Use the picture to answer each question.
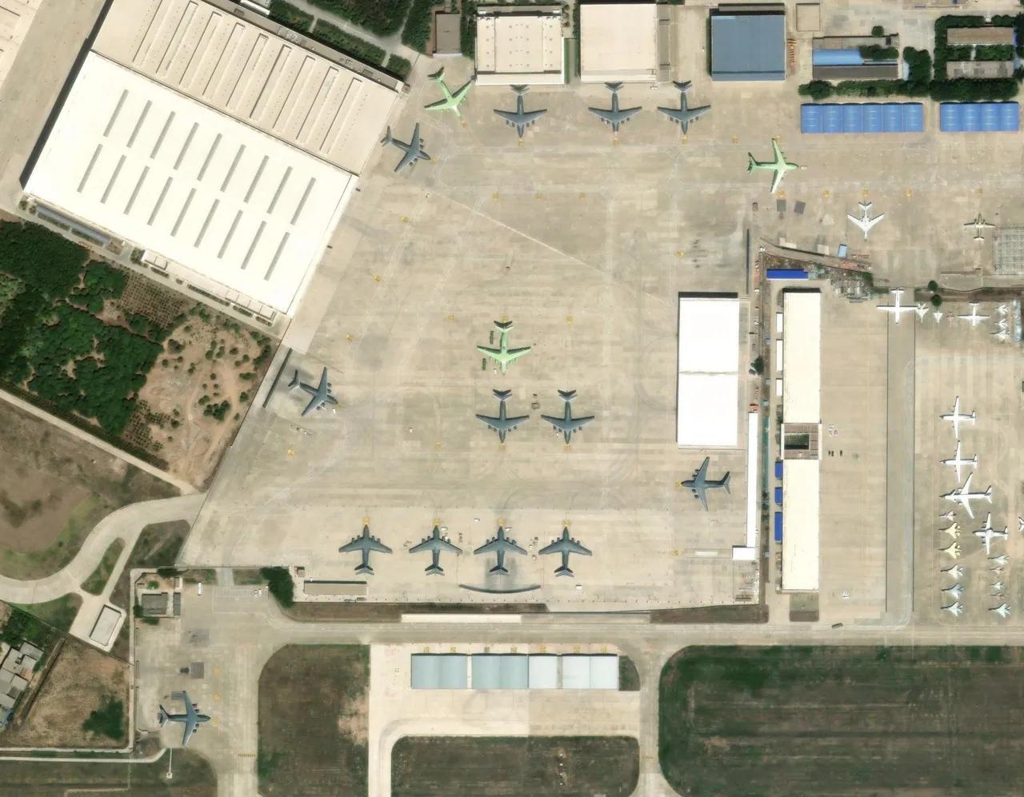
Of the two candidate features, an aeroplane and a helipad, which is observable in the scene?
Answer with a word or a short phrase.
aeroplane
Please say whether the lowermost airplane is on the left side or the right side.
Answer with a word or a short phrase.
left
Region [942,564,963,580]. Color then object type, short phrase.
white airplane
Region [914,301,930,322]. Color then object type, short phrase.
white airplane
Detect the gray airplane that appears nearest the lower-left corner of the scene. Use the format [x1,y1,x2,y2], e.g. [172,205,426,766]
[161,692,211,745]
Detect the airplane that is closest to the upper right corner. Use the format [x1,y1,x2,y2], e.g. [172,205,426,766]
[963,213,996,238]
